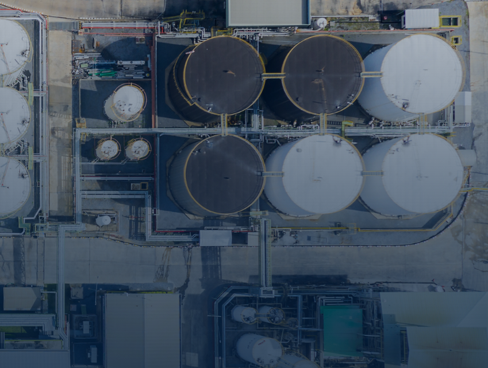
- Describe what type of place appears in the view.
industrial area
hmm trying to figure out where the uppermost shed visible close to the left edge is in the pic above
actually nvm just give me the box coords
[2,287,43,311]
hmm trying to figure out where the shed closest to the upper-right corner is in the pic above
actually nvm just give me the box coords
[397,8,440,30]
